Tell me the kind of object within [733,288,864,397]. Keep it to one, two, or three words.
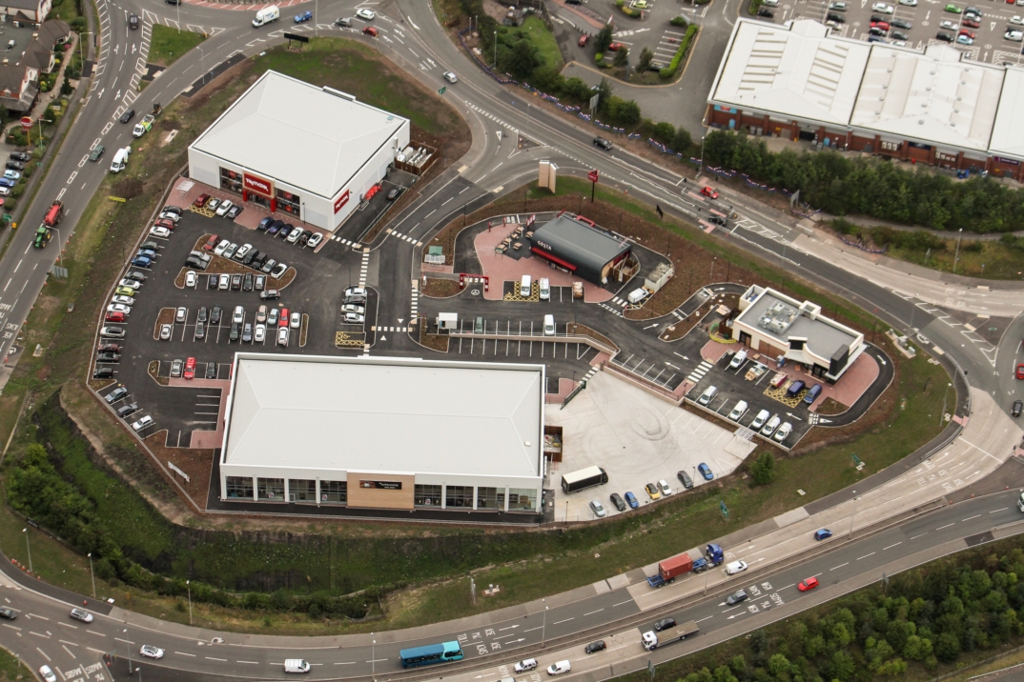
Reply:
building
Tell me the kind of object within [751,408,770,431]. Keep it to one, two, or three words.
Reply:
vehicle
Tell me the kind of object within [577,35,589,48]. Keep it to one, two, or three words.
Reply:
vehicle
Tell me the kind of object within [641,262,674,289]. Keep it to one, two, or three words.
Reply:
shipping container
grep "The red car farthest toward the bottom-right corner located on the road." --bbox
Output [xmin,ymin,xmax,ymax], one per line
[797,577,820,592]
